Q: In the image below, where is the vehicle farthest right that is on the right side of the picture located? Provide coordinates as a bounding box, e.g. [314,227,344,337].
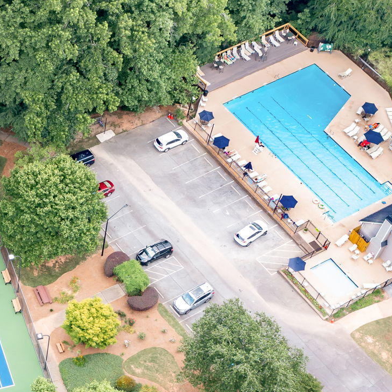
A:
[235,220,271,247]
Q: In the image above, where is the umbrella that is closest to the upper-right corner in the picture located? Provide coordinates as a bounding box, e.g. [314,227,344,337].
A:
[361,103,379,123]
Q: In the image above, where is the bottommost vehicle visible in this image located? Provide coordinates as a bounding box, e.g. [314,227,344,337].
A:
[174,284,216,315]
